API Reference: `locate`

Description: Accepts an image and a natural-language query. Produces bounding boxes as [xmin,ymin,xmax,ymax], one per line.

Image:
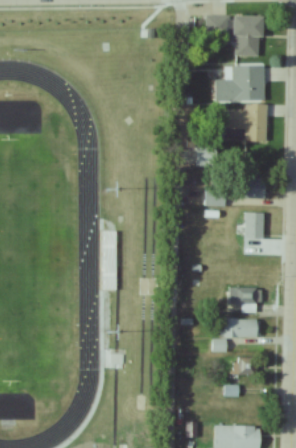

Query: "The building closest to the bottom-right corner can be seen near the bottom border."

[212,423,262,448]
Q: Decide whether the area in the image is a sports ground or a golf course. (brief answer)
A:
sports ground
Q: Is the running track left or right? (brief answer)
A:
left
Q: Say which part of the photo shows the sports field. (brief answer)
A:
left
